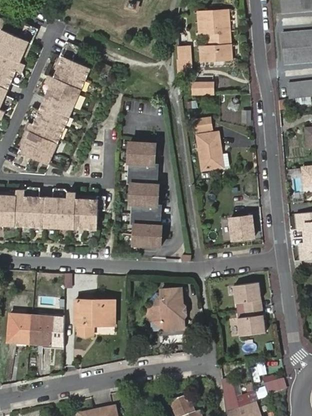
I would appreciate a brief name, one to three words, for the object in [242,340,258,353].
swimming pool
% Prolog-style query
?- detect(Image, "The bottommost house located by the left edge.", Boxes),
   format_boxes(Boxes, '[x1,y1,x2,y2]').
[6,312,65,348]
